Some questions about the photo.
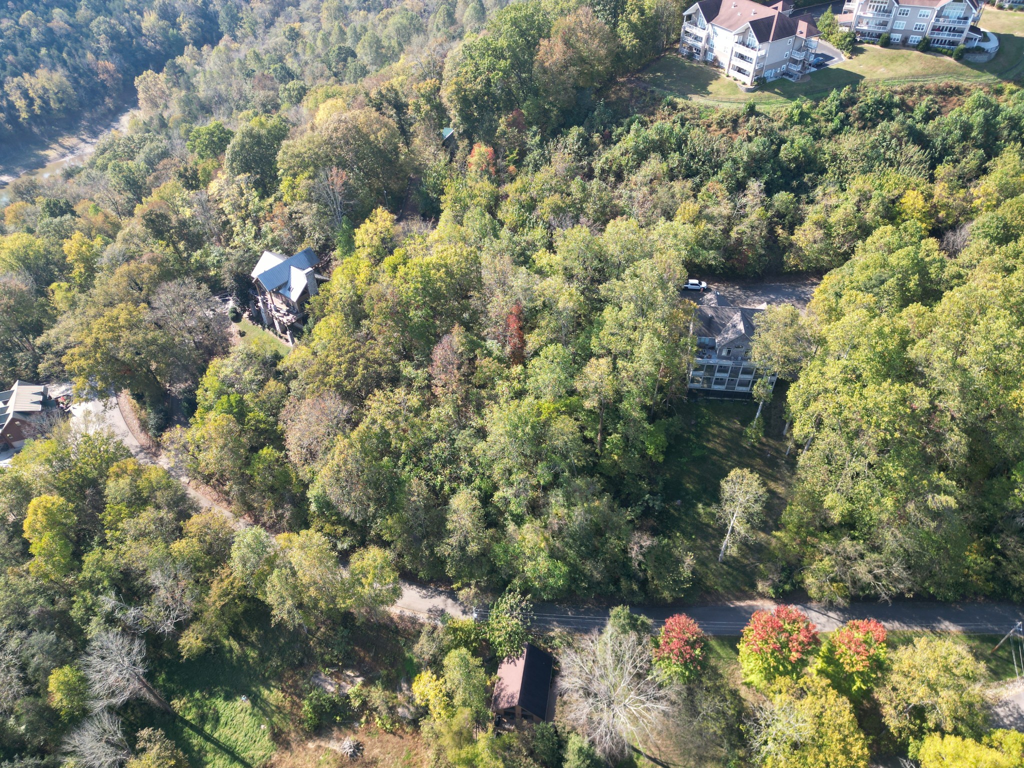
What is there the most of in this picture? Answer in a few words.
trees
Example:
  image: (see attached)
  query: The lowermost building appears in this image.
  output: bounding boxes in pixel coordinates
[488,644,556,743]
